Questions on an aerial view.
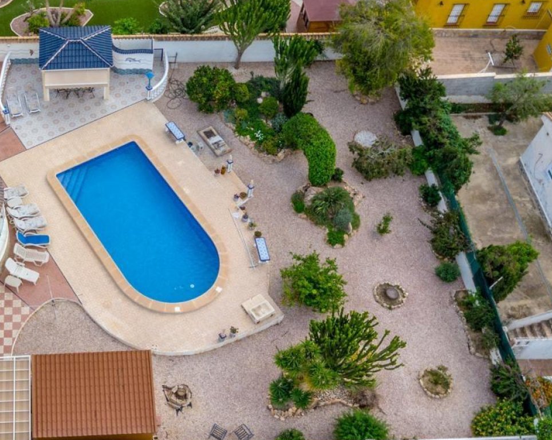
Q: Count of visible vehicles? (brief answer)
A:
0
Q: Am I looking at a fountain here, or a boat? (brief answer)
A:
fountain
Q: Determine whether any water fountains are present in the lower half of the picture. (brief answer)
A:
Yes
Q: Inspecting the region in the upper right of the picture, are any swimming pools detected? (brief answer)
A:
No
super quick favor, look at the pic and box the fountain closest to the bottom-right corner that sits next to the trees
[372,281,408,310]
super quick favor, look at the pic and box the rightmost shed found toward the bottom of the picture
[31,343,158,440]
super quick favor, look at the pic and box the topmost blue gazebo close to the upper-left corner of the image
[38,24,116,100]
